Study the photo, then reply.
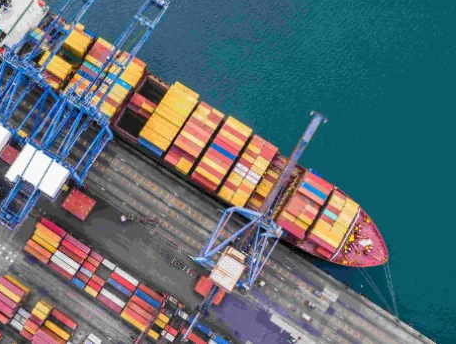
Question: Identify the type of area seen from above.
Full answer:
It's a port.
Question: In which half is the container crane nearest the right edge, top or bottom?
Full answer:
The bottom half of the photo is where the container crane nearest the right edge is.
